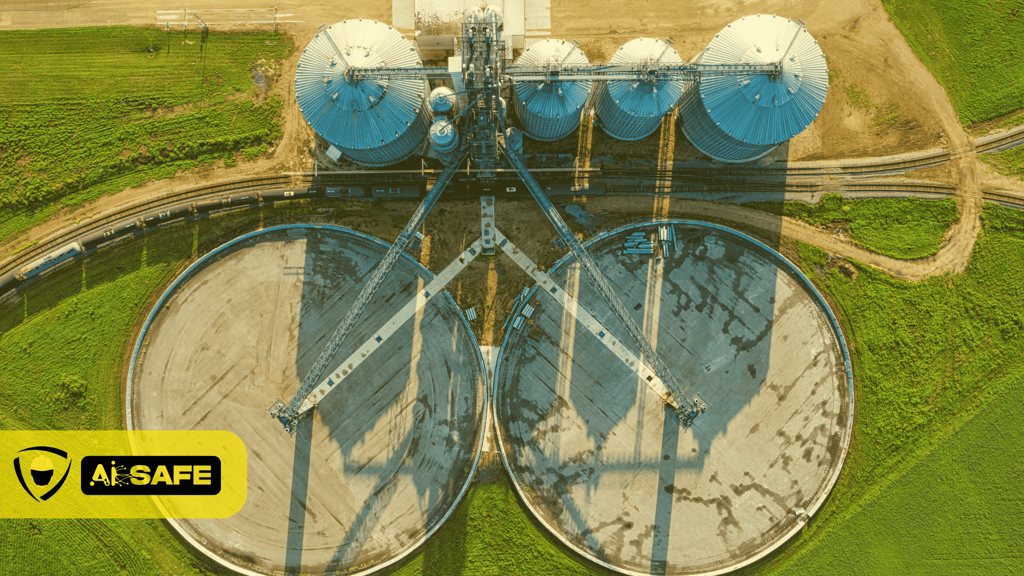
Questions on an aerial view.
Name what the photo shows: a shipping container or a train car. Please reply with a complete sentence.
Visible in the photo is a train car.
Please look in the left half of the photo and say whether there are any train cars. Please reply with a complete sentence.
Yes, a train car shows up in the left half of the photo.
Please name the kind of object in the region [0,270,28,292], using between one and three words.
rail car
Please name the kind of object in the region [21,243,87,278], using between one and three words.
rail car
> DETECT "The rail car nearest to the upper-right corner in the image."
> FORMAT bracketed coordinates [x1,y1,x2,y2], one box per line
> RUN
[542,182,609,195]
